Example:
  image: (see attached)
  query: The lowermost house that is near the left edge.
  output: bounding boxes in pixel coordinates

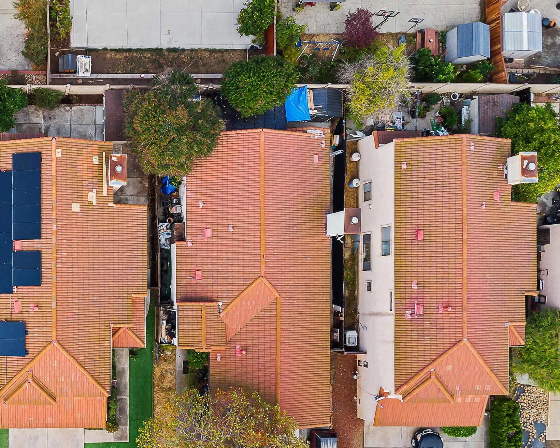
[0,132,148,430]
